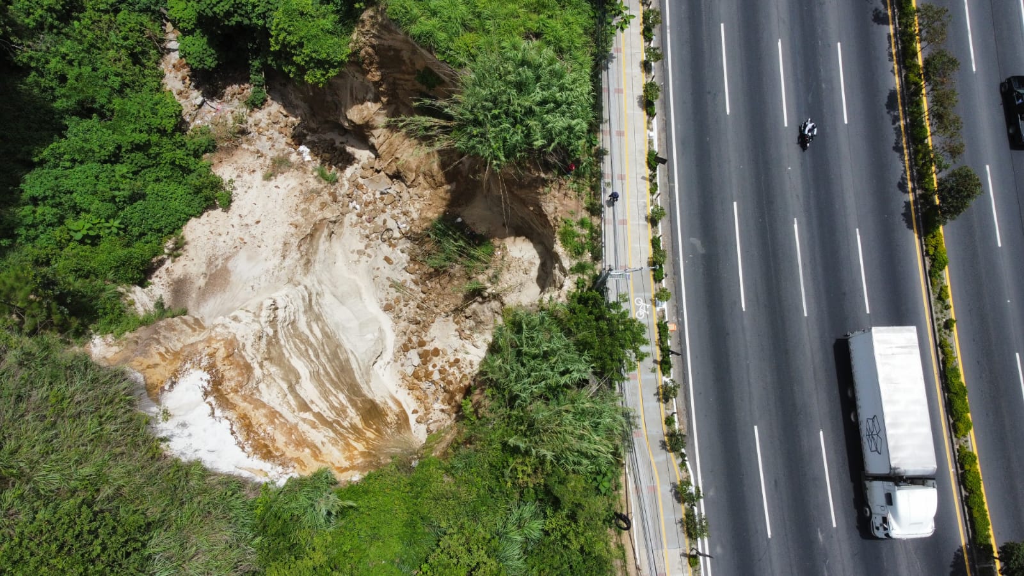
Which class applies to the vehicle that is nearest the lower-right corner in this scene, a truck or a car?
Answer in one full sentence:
I'd identify the vehicle that is nearest the lower-right corner as a truck.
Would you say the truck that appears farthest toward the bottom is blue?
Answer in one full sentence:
No, from above the truck that appears farthest toward the bottom looks white.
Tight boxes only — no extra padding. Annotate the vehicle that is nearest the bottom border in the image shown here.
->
[859,458,935,537]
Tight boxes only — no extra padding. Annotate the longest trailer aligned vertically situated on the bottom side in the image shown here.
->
[846,327,935,473]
